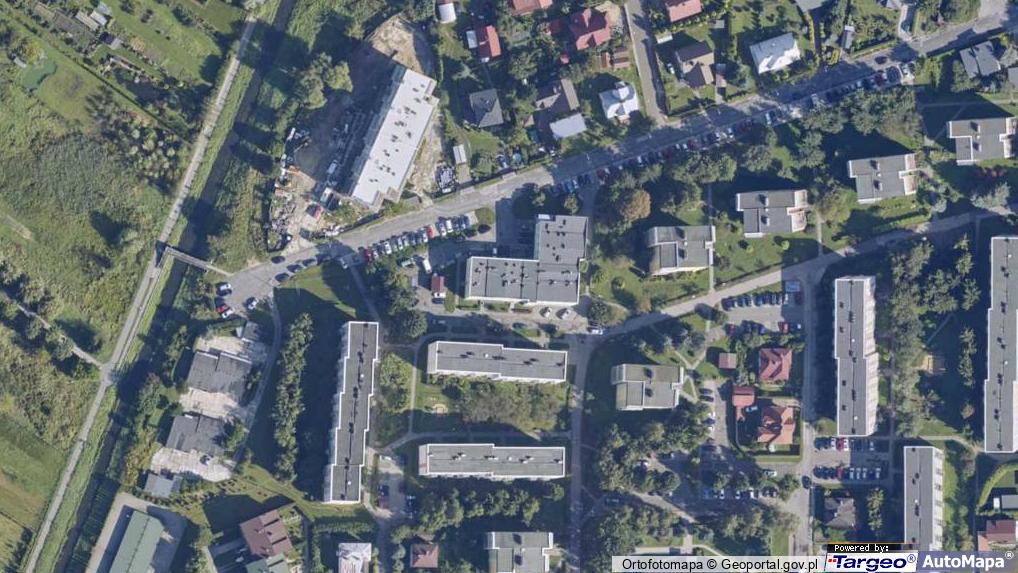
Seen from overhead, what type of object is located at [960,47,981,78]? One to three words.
house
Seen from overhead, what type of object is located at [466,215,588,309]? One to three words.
building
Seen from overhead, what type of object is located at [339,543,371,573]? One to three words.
house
